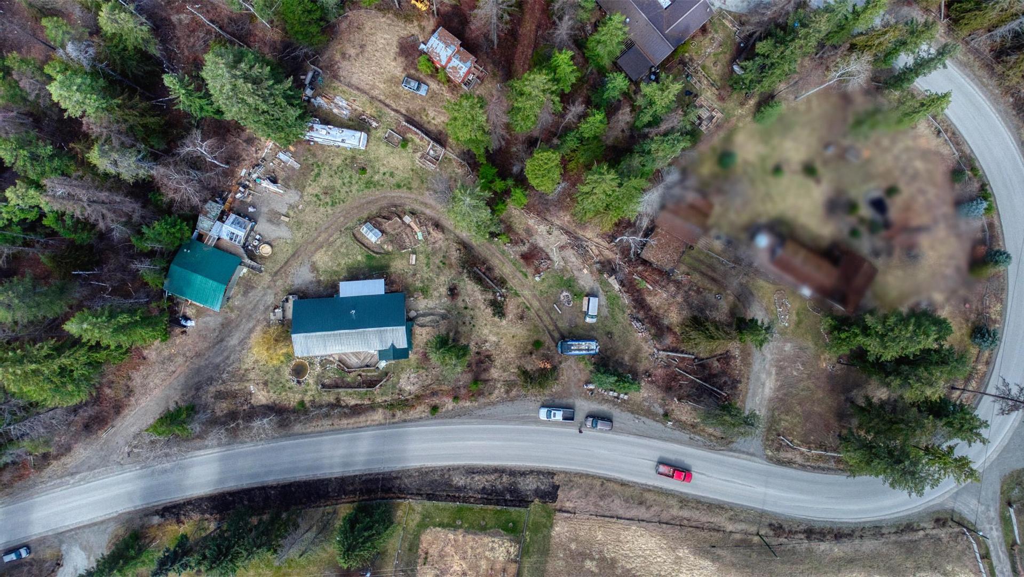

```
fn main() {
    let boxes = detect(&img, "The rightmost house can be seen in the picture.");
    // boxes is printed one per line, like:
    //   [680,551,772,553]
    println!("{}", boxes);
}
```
[767,239,878,316]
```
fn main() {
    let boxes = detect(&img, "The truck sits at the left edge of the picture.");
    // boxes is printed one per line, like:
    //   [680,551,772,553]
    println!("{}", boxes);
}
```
[0,543,33,564]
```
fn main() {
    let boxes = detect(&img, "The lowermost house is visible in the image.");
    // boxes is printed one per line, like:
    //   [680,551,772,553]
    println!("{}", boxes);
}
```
[291,279,414,361]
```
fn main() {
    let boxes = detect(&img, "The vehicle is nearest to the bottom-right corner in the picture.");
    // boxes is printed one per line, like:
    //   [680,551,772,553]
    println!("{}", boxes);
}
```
[654,462,691,482]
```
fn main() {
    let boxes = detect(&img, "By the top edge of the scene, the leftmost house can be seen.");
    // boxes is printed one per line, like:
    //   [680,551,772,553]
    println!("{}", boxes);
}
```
[419,27,476,85]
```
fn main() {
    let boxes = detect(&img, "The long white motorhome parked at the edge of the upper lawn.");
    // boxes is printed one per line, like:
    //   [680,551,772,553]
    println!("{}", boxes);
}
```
[304,124,369,152]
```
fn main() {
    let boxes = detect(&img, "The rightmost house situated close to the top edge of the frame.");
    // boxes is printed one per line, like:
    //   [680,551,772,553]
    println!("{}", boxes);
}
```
[593,0,730,82]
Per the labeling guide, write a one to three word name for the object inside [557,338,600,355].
vehicle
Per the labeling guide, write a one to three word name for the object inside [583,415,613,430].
car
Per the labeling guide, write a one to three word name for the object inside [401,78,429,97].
car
